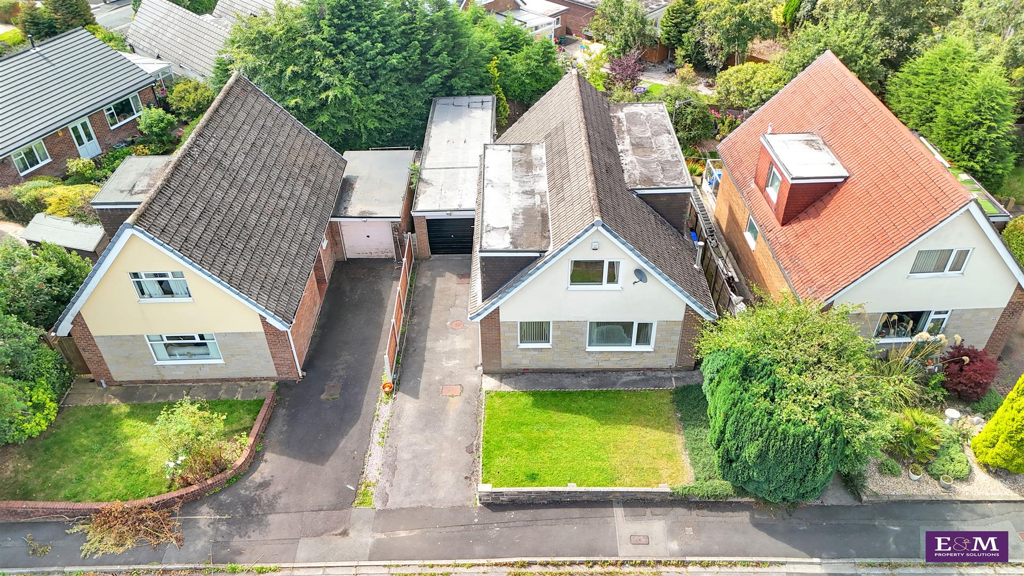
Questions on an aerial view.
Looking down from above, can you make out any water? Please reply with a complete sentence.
No, there's no water in this view.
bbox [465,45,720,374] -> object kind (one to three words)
house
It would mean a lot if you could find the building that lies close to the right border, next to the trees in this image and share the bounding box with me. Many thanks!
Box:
[719,52,1024,361]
